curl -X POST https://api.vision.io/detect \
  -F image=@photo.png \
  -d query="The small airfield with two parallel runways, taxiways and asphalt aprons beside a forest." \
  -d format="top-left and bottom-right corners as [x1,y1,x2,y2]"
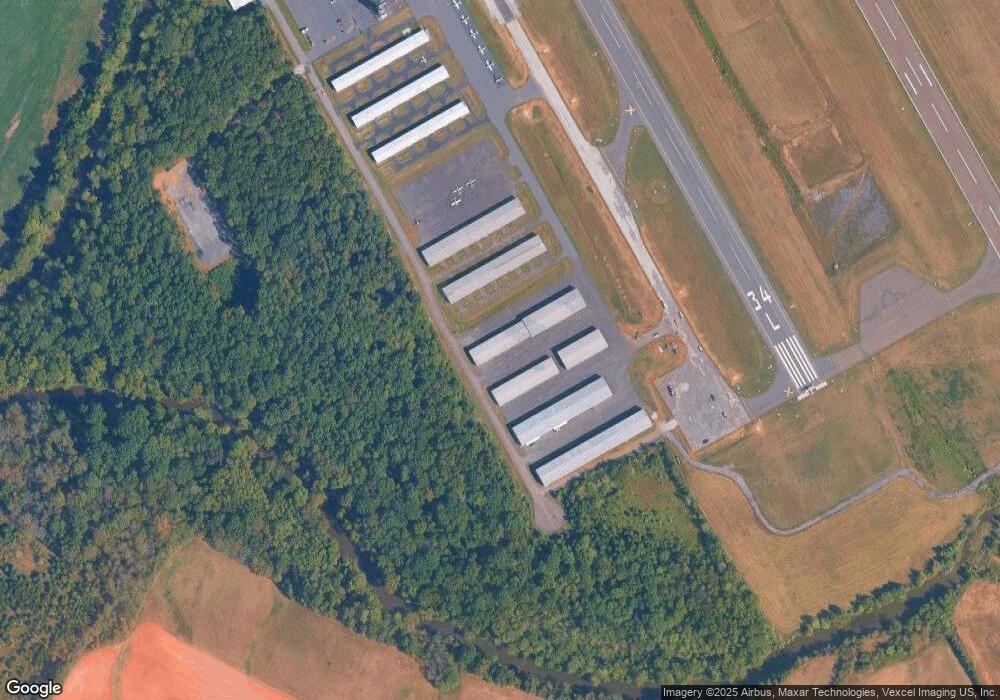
[284,0,1000,494]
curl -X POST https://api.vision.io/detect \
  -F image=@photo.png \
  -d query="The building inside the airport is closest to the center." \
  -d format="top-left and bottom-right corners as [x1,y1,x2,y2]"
[470,320,532,366]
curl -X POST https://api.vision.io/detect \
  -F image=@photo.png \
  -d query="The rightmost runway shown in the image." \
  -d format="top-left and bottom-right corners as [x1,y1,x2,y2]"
[855,0,1000,257]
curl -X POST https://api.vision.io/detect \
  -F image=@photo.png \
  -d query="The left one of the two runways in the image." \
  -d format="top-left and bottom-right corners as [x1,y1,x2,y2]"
[572,0,826,399]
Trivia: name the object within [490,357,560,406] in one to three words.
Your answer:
hangar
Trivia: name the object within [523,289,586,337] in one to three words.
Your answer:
hangar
